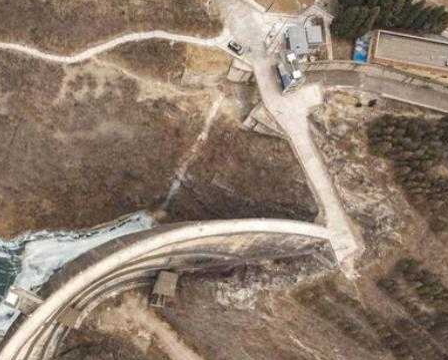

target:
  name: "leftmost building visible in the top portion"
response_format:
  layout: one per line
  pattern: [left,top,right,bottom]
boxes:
[224,57,252,85]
